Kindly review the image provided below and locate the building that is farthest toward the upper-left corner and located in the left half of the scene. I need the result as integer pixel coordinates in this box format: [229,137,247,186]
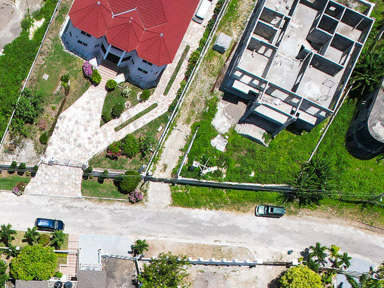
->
[67,0,199,94]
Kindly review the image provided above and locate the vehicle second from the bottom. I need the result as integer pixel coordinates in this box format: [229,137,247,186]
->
[254,203,286,219]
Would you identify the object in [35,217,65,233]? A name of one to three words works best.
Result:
car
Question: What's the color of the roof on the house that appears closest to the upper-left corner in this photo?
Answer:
red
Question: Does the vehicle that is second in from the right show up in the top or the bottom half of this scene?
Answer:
top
